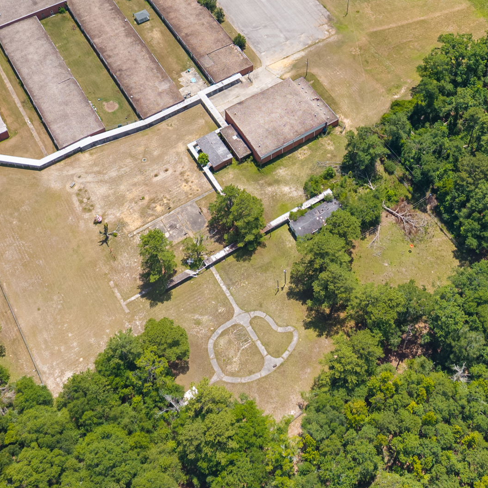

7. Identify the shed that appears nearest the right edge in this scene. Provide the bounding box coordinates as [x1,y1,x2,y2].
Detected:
[289,198,345,241]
